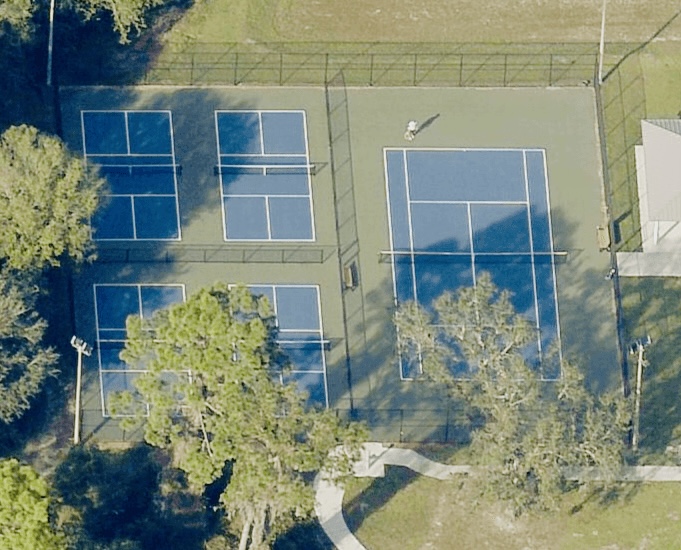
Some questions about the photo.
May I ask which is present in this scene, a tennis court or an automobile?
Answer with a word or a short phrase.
tennis court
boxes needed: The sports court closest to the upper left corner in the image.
[82,110,180,239]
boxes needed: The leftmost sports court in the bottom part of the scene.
[94,285,194,416]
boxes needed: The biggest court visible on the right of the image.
[384,149,564,379]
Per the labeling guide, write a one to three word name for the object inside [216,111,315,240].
sports court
